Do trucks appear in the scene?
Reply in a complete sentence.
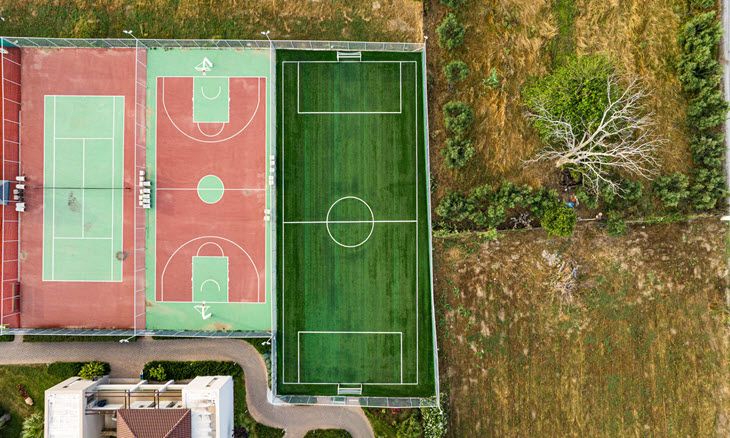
No, there appears to be no truck in this shot.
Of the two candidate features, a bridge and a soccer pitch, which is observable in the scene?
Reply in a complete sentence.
Of the two, only a soccer pitch appears.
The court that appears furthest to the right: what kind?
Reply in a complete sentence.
Looking closely, the court that appears furthest to the right is a basketball court.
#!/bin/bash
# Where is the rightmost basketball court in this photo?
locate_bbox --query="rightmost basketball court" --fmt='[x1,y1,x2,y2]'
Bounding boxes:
[146,47,271,332]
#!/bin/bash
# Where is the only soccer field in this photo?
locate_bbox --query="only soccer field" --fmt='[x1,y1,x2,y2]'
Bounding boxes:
[277,49,435,397]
